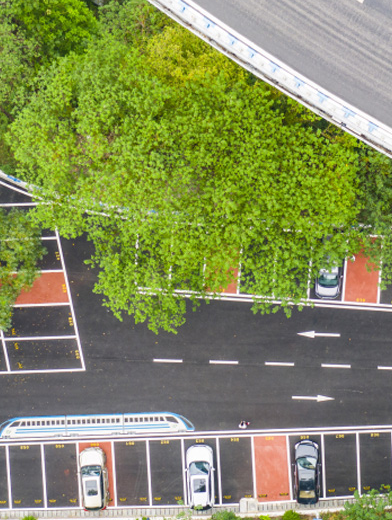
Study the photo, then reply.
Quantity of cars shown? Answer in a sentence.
There are 4 cars in the image.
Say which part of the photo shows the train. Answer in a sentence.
The train is in the bottom left part of the image.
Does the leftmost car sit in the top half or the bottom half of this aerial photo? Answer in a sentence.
Seen from above, the leftmost car lies in the bottom half of the view.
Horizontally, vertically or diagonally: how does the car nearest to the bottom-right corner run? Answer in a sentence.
The car nearest to the bottom-right corner is oriented vertically.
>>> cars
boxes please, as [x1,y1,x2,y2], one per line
[290,439,320,505]
[312,240,343,301]
[73,443,111,510]
[181,442,216,510]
